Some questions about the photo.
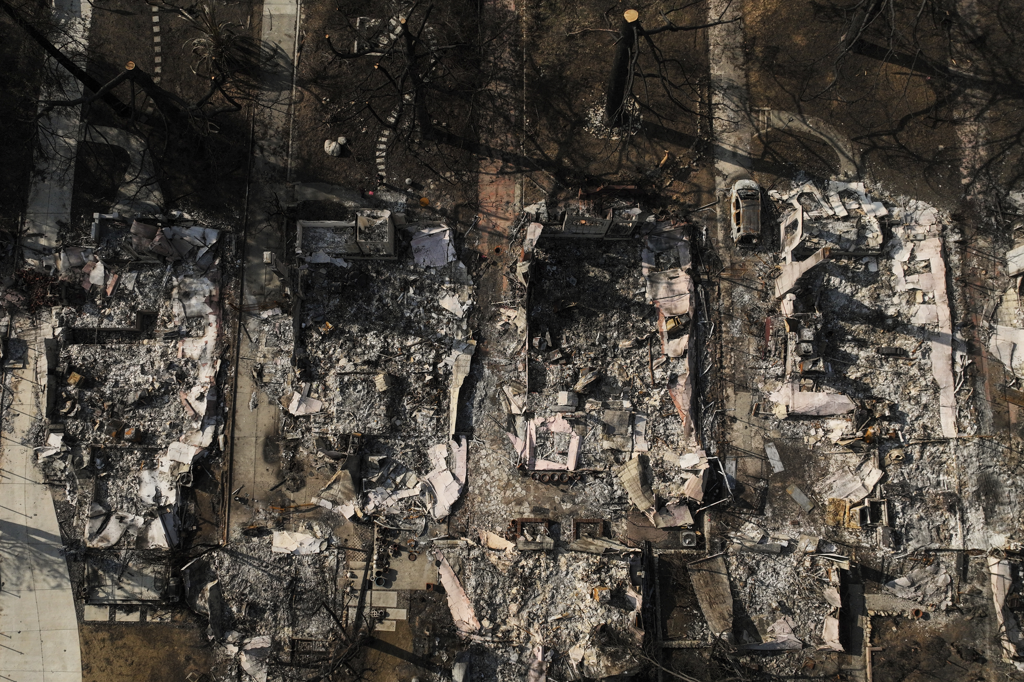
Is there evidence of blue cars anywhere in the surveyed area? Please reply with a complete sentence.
No, no blue car can be seen from above.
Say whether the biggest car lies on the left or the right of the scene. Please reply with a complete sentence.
You can find the biggest car on the right side of the picture.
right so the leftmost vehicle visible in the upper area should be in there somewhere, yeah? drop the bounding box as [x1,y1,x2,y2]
[731,181,764,249]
